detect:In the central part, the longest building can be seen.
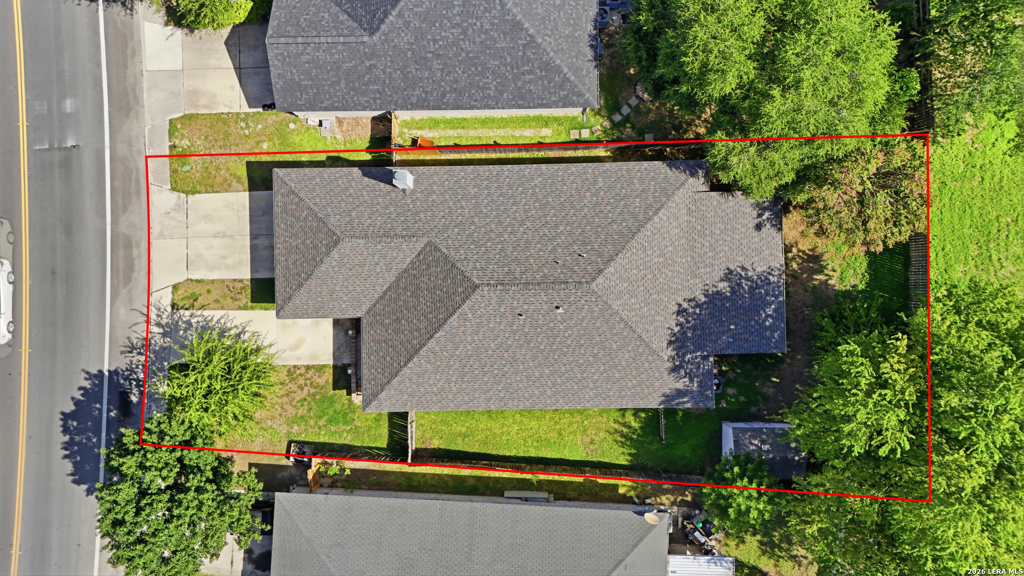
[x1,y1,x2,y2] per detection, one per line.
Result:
[272,161,786,415]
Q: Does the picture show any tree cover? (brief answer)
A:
Yes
